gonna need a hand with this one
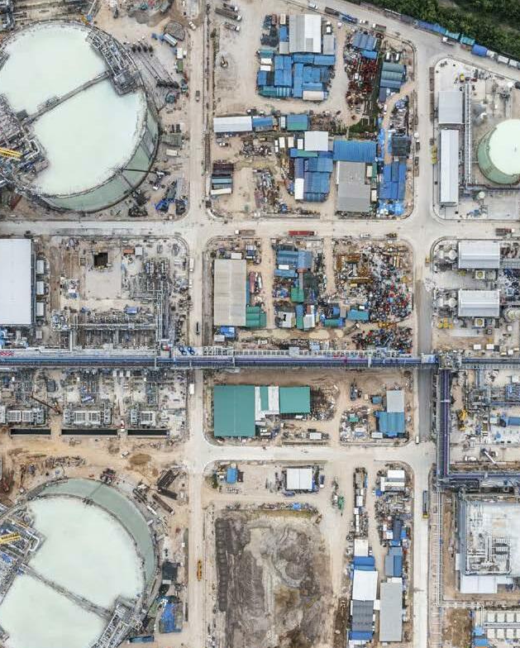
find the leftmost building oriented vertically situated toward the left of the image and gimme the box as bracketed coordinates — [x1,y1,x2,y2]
[0,239,37,325]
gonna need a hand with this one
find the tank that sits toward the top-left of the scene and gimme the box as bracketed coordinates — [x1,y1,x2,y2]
[0,21,160,213]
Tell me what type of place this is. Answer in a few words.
industrial area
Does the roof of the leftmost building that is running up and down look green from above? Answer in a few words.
No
